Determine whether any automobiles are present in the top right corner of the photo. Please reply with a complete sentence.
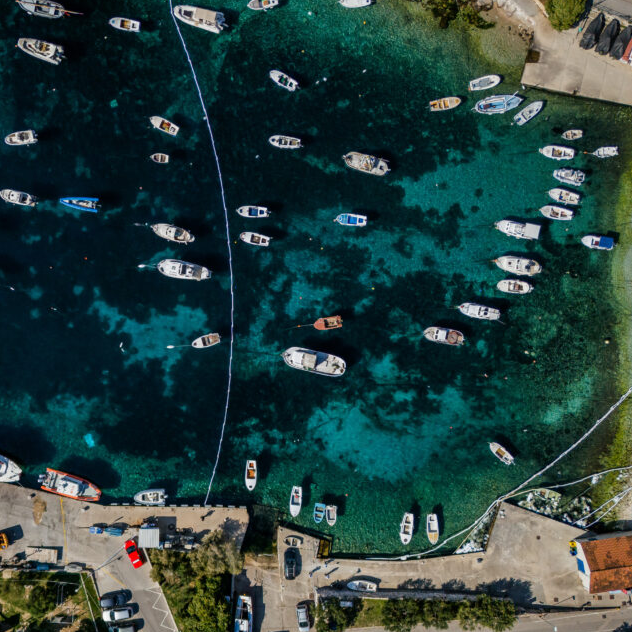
No, in the top right corner of the photo there is no automobile.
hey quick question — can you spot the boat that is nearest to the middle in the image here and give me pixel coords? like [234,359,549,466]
[304,315,346,331]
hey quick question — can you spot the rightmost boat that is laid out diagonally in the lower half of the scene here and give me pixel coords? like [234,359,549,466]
[460,424,517,467]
